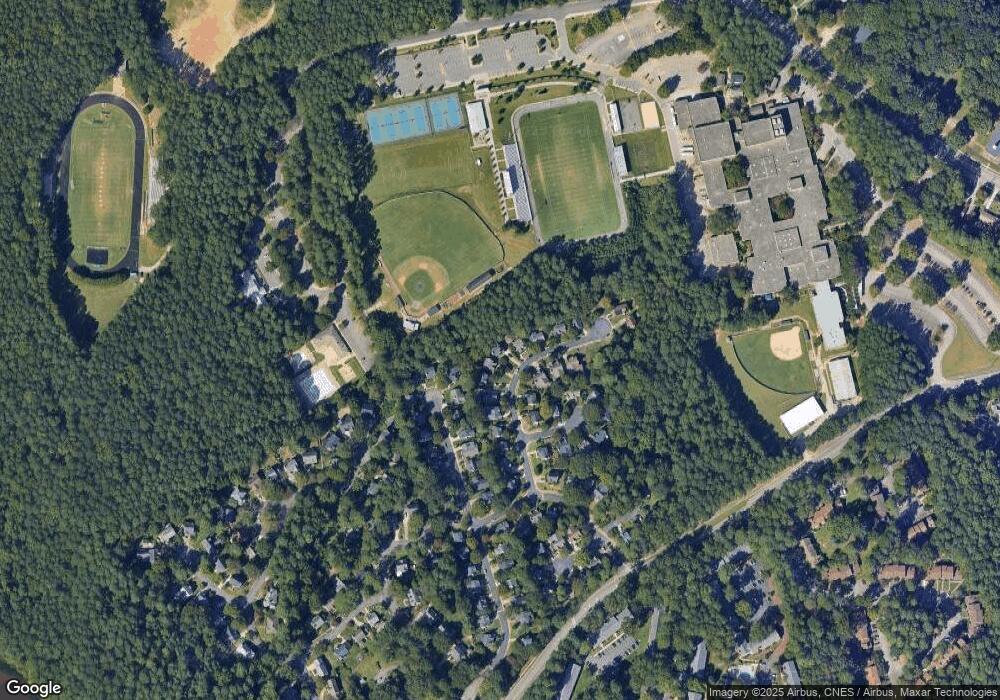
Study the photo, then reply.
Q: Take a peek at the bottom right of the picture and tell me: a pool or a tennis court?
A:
pool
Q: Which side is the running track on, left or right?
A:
left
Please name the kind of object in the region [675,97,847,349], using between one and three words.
building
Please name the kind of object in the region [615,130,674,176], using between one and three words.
sports field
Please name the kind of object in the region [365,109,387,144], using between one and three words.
tennis court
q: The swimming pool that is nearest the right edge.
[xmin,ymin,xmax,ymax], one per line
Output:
[729,663,758,685]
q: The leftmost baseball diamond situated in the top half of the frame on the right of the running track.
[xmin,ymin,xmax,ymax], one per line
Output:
[374,190,504,322]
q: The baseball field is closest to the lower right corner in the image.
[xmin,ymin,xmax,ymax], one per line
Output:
[731,322,815,394]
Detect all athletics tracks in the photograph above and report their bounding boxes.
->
[60,93,145,278]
